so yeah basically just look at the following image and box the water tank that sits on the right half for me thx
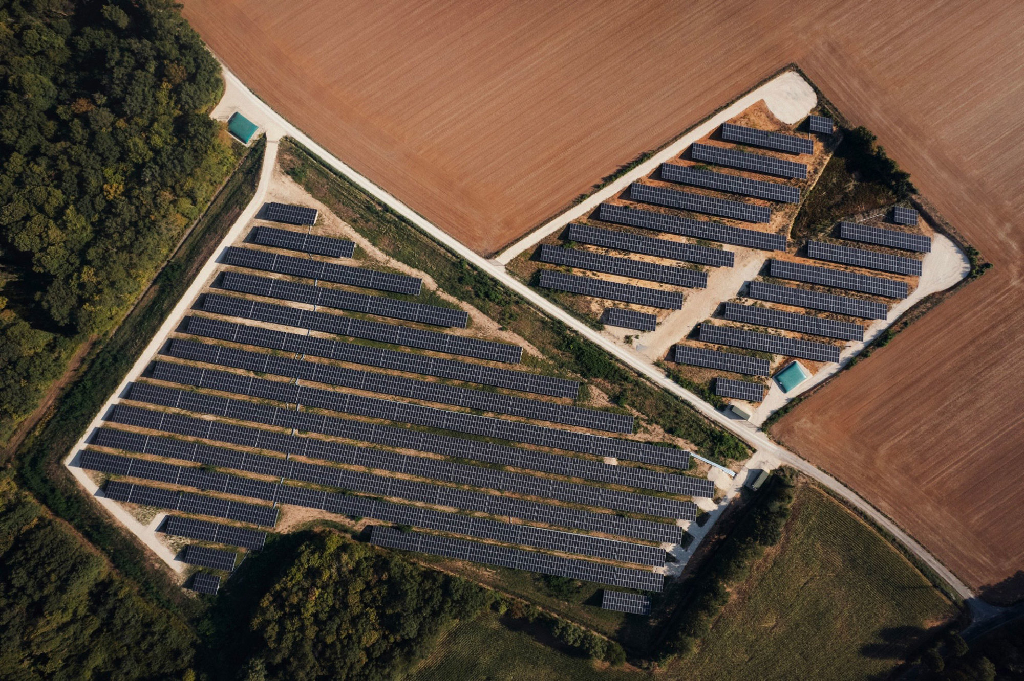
[772,361,808,394]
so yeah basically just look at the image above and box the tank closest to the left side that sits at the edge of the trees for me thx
[228,111,259,144]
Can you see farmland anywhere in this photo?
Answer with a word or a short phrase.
Yes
